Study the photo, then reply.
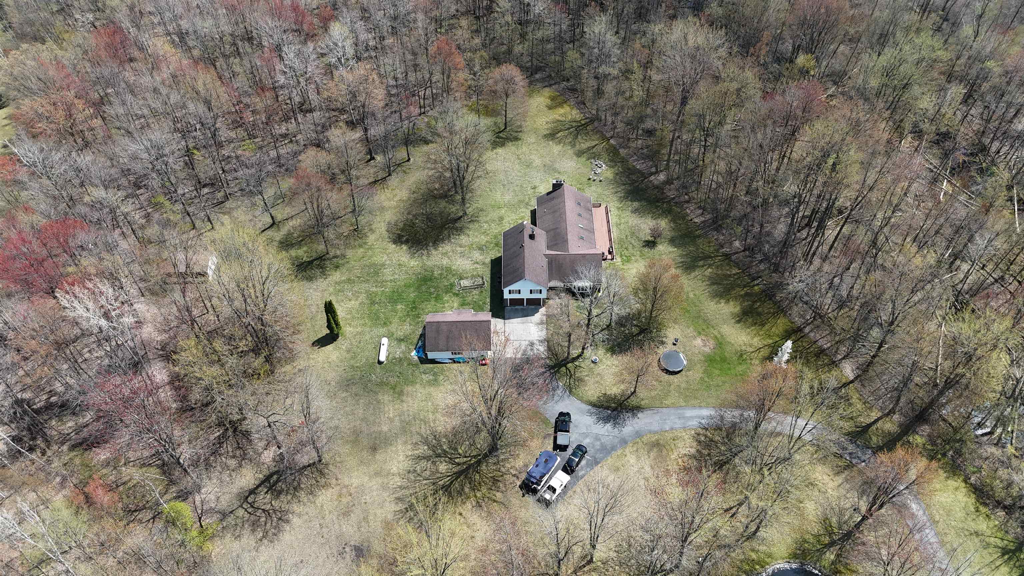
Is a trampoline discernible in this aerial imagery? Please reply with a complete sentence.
Yes, the frame does contain a trampoline.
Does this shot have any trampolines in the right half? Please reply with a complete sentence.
Yes, you'll find a trampoline in the right half.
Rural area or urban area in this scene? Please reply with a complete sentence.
The land in this view is best described as rural.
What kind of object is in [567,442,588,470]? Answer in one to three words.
car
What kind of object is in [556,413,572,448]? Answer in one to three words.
vehicle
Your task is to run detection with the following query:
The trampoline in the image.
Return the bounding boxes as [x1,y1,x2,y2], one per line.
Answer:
[660,350,687,375]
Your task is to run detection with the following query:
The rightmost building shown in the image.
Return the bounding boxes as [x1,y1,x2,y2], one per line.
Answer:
[501,178,602,306]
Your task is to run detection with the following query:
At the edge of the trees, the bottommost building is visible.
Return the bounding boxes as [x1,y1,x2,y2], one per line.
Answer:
[425,310,492,358]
